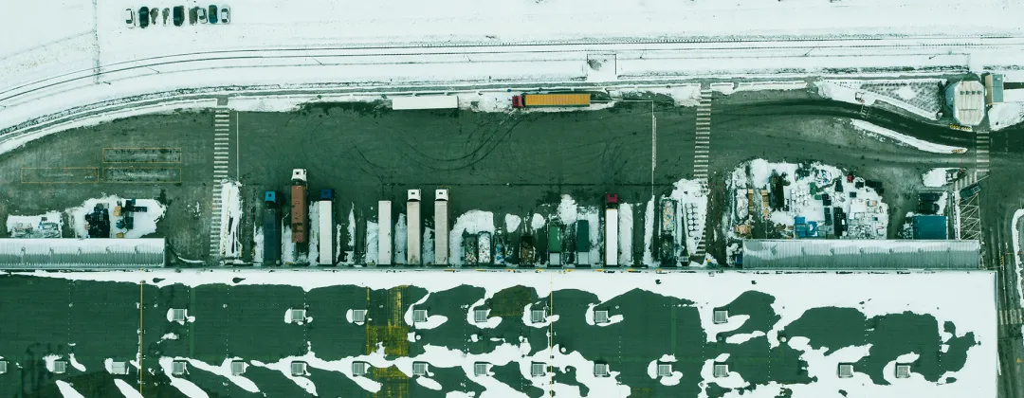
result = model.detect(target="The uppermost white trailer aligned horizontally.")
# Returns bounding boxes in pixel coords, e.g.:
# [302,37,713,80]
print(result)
[393,96,460,112]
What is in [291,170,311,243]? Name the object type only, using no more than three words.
vehicle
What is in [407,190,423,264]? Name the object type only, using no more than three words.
vehicle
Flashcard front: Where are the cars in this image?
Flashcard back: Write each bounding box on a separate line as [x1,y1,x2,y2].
[956,183,981,198]
[140,8,151,28]
[916,192,939,202]
[208,5,219,24]
[198,7,209,25]
[221,6,232,25]
[126,8,137,29]
[915,203,939,213]
[174,7,184,26]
